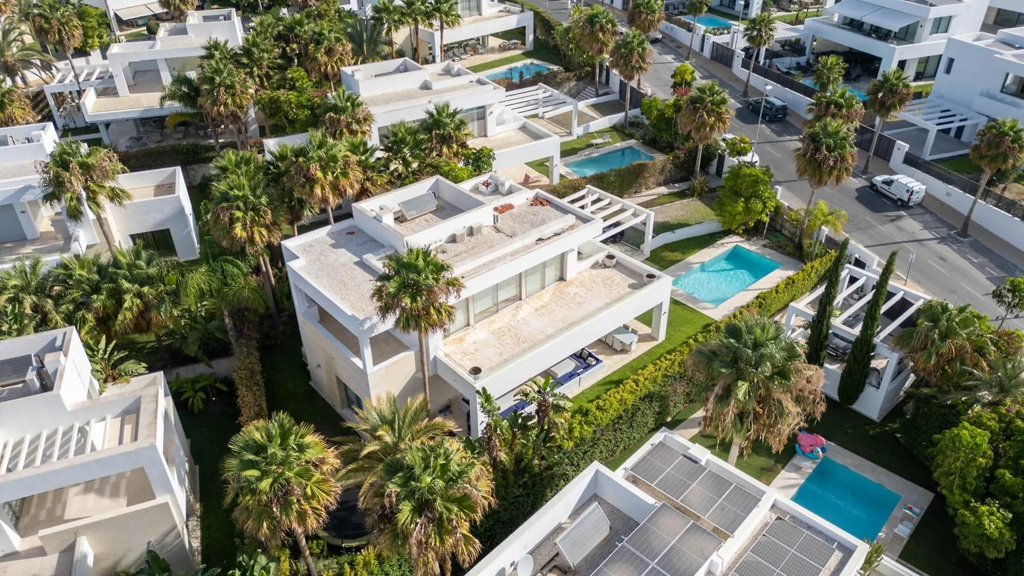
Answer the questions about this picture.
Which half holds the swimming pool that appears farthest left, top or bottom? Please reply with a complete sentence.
The swimming pool that appears farthest left sits in the top half of the picture.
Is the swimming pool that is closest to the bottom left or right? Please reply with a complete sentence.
It is on the right.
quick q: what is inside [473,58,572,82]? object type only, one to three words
swimming pool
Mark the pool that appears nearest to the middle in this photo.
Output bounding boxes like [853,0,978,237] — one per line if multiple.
[557,140,648,179]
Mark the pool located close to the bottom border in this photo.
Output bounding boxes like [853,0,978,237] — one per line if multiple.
[772,434,936,553]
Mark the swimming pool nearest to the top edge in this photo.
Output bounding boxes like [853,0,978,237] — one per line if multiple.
[673,11,742,29]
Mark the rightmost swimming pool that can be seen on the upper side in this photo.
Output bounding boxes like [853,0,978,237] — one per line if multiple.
[785,71,867,105]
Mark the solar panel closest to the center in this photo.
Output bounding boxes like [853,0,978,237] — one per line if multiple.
[398,188,441,221]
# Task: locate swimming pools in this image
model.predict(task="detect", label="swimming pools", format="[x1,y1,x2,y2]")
[772,434,936,553]
[473,58,572,82]
[673,11,742,29]
[557,140,648,179]
[661,233,806,317]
